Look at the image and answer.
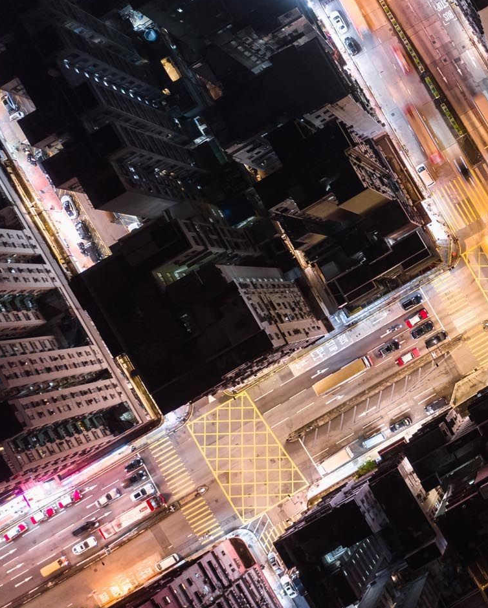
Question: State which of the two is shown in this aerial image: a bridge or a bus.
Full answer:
It is a bus that can be seen here.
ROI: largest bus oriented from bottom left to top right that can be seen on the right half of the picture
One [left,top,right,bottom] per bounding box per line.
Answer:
[312,352,377,397]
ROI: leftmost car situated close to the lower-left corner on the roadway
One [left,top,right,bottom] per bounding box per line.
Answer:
[4,521,29,540]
